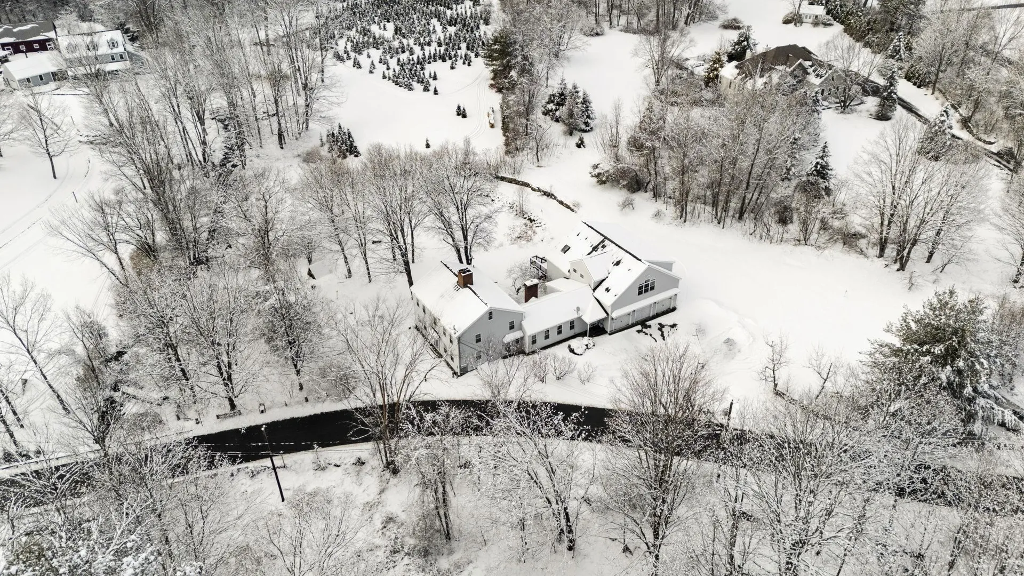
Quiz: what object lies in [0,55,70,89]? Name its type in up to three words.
house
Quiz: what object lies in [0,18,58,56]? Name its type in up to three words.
barn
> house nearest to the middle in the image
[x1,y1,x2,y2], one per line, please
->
[408,220,684,380]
